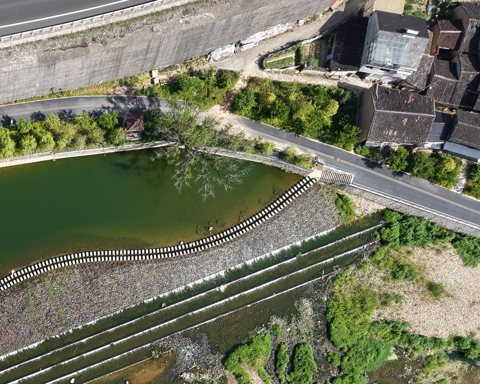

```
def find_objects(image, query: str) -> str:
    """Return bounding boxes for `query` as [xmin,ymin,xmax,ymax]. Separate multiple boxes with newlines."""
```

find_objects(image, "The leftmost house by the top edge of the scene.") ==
[324,16,371,80]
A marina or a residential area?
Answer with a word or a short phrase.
residential area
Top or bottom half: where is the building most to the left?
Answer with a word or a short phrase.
top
